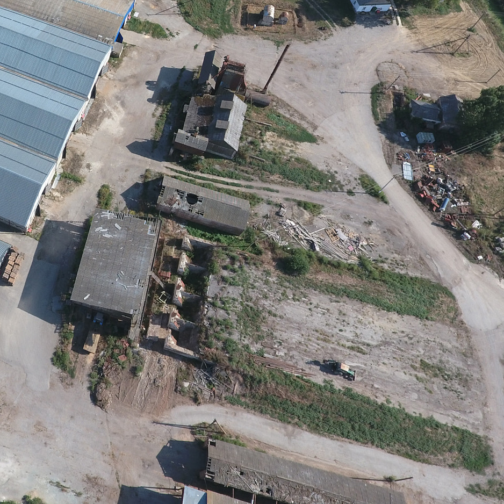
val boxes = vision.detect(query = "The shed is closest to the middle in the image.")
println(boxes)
[155,176,250,235]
